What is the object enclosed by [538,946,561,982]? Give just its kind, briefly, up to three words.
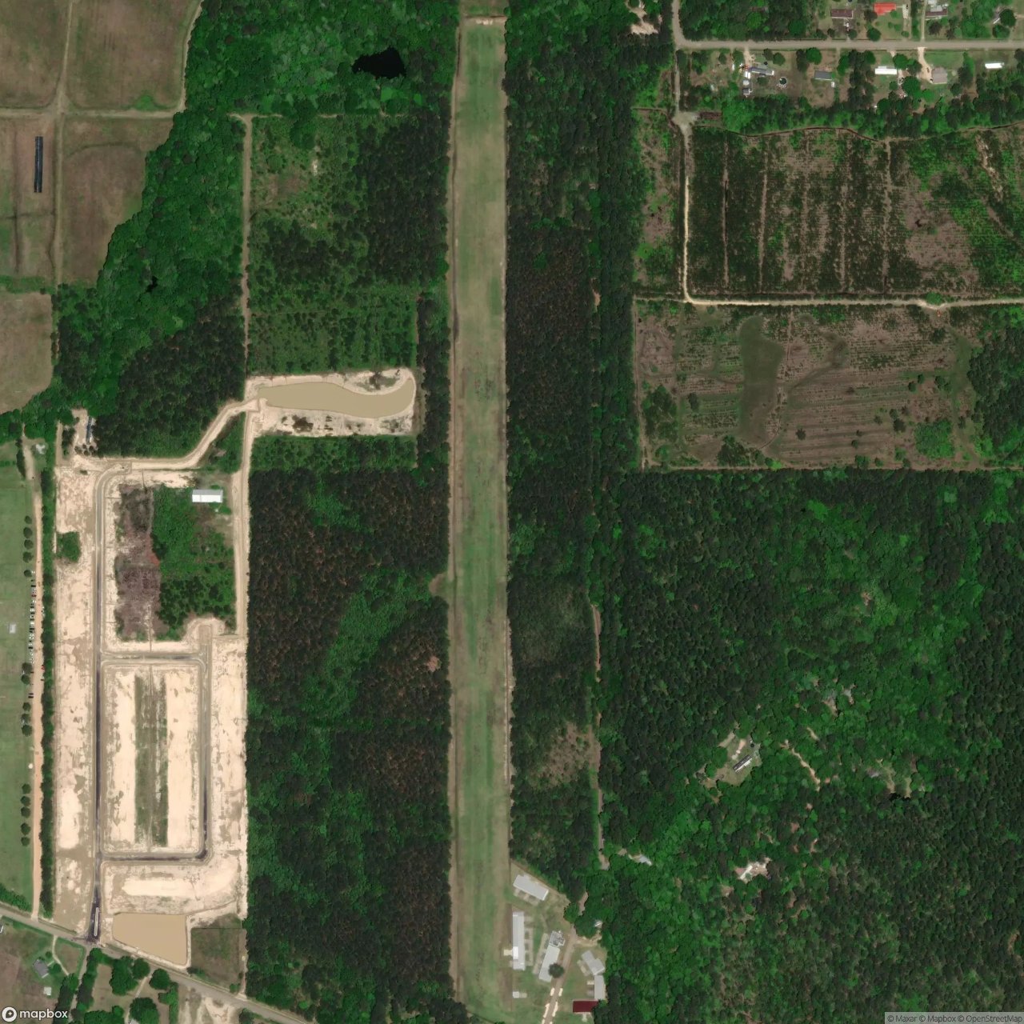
building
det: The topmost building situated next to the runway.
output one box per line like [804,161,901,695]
[514,875,547,900]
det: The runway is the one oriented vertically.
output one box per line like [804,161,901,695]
[446,21,510,1010]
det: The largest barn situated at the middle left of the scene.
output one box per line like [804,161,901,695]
[191,489,222,503]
